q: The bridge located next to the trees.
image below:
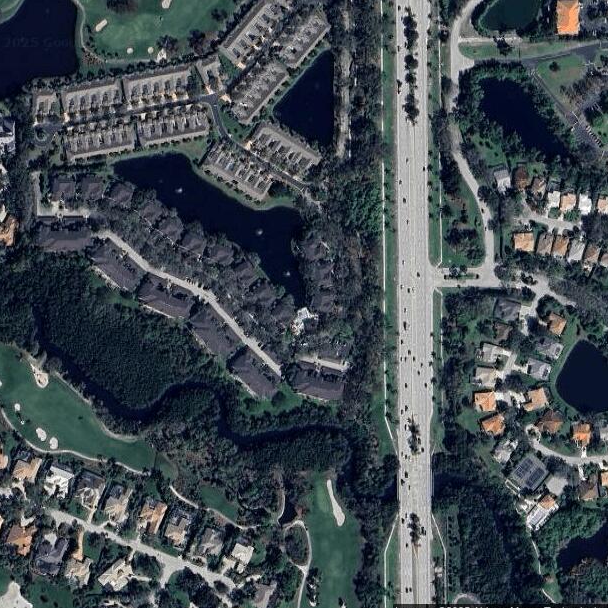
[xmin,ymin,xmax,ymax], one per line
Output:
[397,455,434,508]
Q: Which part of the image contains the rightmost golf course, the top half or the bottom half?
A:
bottom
